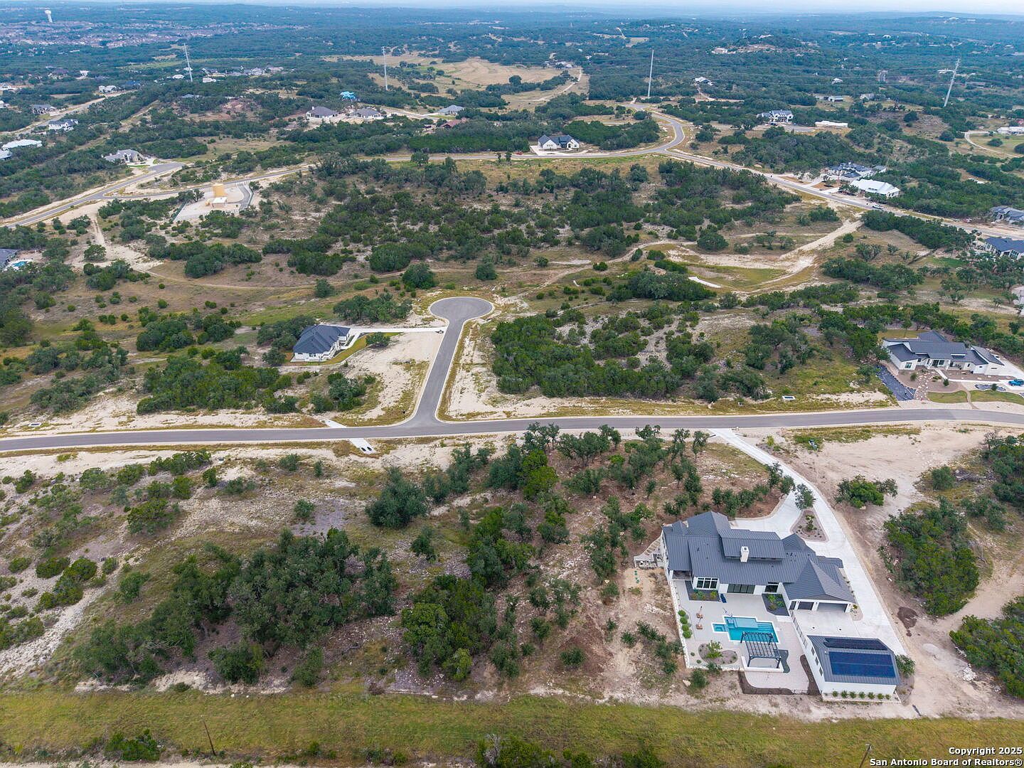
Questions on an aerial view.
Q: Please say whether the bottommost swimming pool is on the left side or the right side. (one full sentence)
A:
It is on the right.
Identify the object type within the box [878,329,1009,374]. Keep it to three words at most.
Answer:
house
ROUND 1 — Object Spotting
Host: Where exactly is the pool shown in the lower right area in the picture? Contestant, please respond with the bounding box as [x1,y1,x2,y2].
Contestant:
[709,615,781,645]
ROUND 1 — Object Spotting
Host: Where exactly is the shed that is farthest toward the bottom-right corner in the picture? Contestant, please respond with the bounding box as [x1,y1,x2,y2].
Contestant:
[804,635,900,696]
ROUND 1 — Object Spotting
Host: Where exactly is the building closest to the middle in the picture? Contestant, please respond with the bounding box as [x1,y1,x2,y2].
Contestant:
[291,320,356,360]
